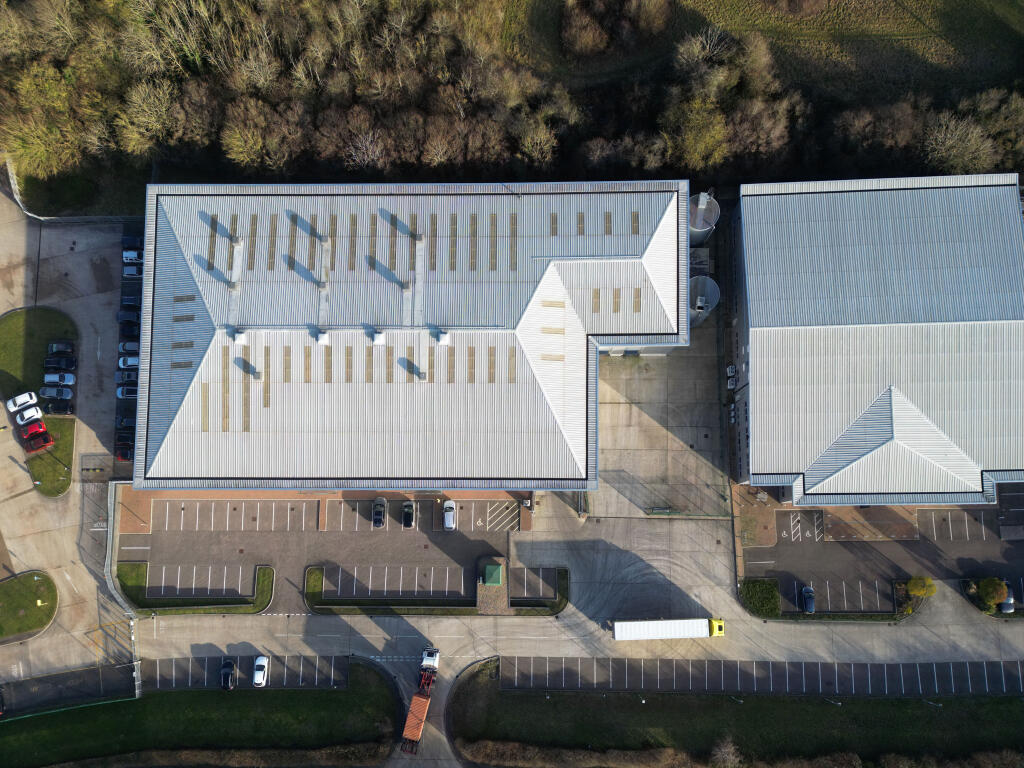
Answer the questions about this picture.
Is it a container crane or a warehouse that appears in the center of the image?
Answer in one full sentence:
You can see a warehouse in the center of the image.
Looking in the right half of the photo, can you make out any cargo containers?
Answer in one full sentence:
No, I can find no cargo container in the right half of the photo.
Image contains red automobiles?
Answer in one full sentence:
Yes, there's a red automobile down there.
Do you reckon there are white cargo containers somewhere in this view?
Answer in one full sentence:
No, there isn't any white cargo container down there.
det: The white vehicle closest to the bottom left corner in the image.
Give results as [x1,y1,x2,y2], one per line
[254,655,269,689]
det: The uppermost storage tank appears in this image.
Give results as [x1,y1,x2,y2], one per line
[689,193,721,242]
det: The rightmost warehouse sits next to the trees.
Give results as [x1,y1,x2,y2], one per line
[728,174,1024,505]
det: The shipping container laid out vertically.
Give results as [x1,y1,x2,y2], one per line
[402,690,431,743]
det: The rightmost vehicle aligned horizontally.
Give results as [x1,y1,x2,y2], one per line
[608,612,726,641]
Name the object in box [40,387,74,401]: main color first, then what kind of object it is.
blue car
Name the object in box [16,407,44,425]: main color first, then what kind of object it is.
white car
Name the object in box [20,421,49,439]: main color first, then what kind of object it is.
red car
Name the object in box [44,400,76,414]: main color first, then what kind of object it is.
black car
